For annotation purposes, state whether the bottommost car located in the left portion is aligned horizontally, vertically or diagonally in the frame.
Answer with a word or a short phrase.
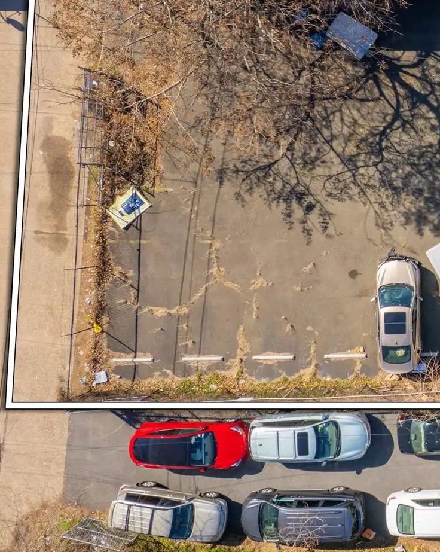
horizontally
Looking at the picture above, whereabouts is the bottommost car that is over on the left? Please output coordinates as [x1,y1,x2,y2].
[104,478,236,545]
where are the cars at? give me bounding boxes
[244,484,368,545]
[386,485,440,538]
[129,415,251,474]
[104,478,236,545]
[399,408,440,457]
[371,244,424,374]
[249,407,374,466]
